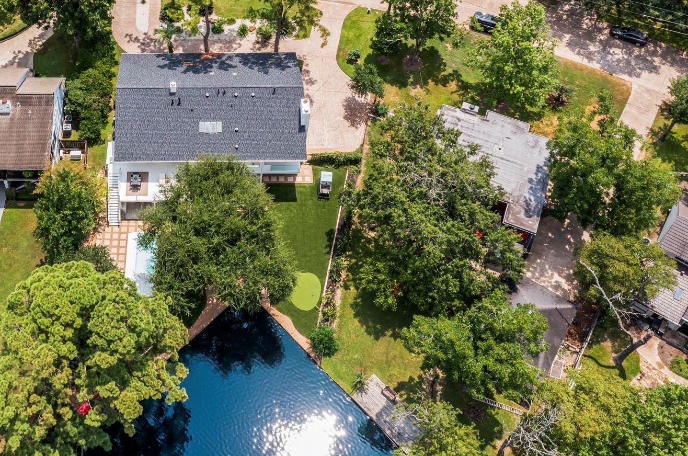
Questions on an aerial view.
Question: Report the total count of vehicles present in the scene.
2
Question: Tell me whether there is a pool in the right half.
No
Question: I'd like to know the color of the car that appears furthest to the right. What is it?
black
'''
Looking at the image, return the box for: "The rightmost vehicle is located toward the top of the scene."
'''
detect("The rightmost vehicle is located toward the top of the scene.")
[613,26,650,47]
